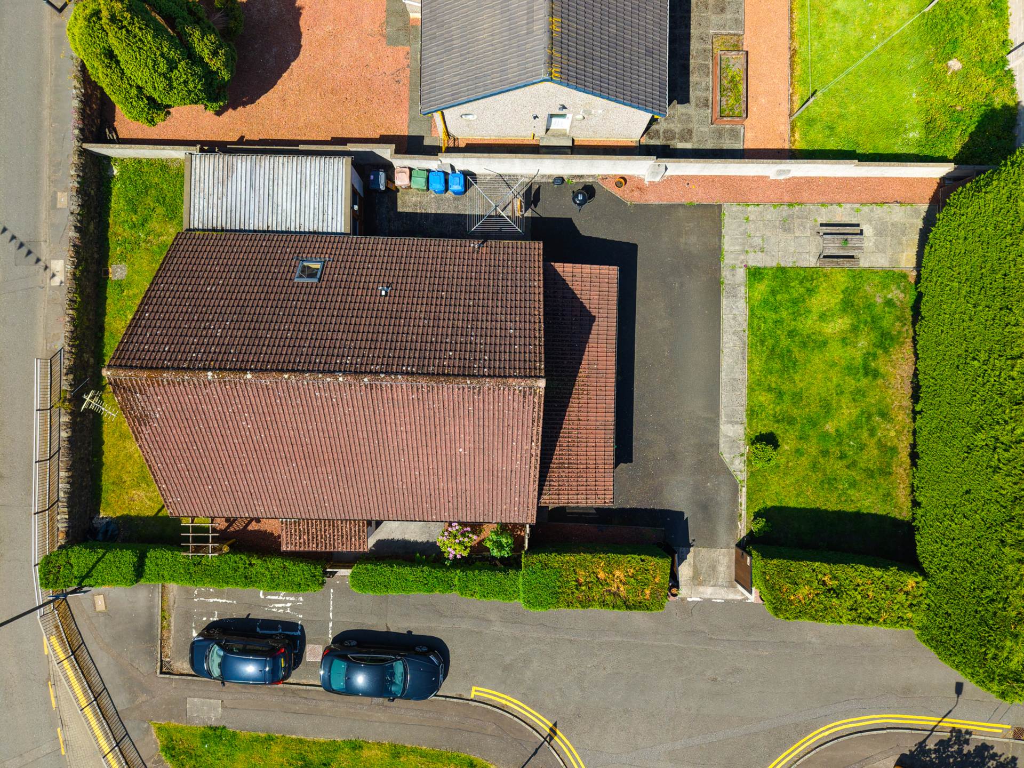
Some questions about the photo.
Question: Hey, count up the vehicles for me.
two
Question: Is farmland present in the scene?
No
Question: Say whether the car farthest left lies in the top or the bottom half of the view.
bottom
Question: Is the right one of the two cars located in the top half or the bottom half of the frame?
bottom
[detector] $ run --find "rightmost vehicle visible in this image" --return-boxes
[318,641,443,709]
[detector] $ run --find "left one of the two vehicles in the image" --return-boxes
[188,629,294,691]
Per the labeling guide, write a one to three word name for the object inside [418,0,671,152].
house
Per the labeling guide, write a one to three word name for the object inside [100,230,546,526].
house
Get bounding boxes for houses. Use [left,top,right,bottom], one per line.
[418,0,671,152]
[100,230,546,526]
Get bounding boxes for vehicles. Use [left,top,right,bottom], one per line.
[188,629,294,691]
[318,641,443,709]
